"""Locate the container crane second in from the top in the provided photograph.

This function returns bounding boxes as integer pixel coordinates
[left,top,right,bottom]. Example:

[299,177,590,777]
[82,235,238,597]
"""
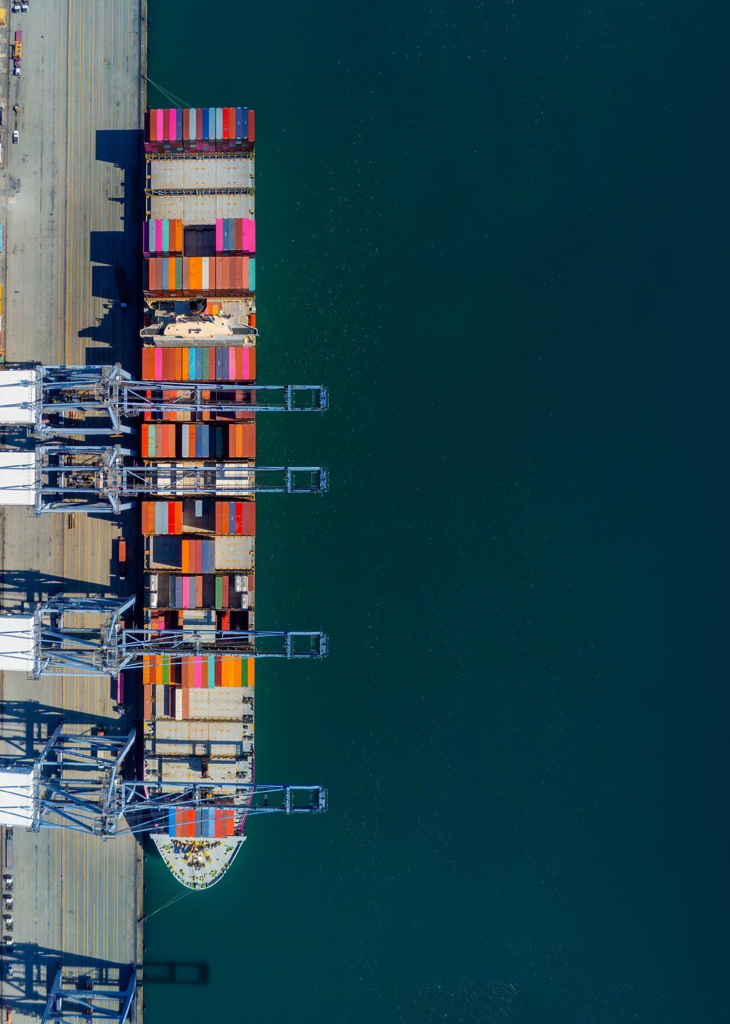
[0,443,326,521]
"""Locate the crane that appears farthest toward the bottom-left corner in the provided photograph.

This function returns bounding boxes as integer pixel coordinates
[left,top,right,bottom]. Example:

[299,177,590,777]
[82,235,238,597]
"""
[35,955,136,1024]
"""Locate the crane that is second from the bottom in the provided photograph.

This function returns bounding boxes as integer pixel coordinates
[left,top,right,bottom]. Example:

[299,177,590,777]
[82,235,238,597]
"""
[0,717,329,845]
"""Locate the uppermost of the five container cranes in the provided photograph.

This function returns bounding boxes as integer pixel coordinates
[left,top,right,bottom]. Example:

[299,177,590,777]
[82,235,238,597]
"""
[0,364,328,445]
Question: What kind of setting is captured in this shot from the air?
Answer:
port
